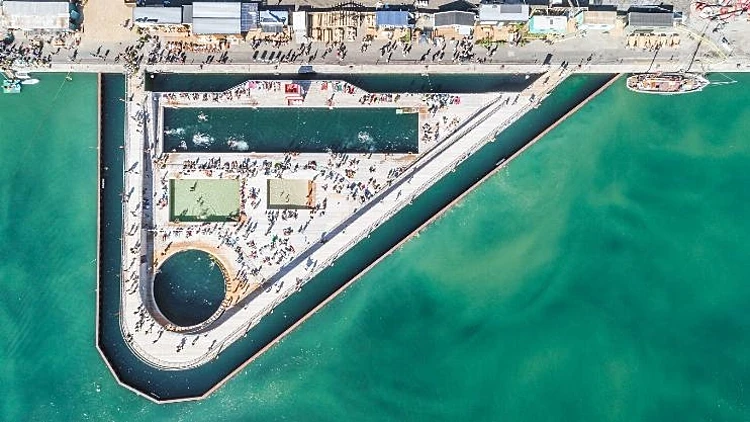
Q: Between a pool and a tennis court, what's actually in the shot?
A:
pool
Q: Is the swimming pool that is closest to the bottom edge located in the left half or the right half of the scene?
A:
left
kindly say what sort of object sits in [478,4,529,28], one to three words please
building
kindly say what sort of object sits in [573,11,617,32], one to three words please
building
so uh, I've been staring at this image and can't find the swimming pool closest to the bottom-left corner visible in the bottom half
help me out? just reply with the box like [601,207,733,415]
[152,250,230,328]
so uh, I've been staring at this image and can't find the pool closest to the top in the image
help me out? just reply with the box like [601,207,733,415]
[161,105,420,155]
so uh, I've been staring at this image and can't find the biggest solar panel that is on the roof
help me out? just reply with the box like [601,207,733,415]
[242,3,256,31]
